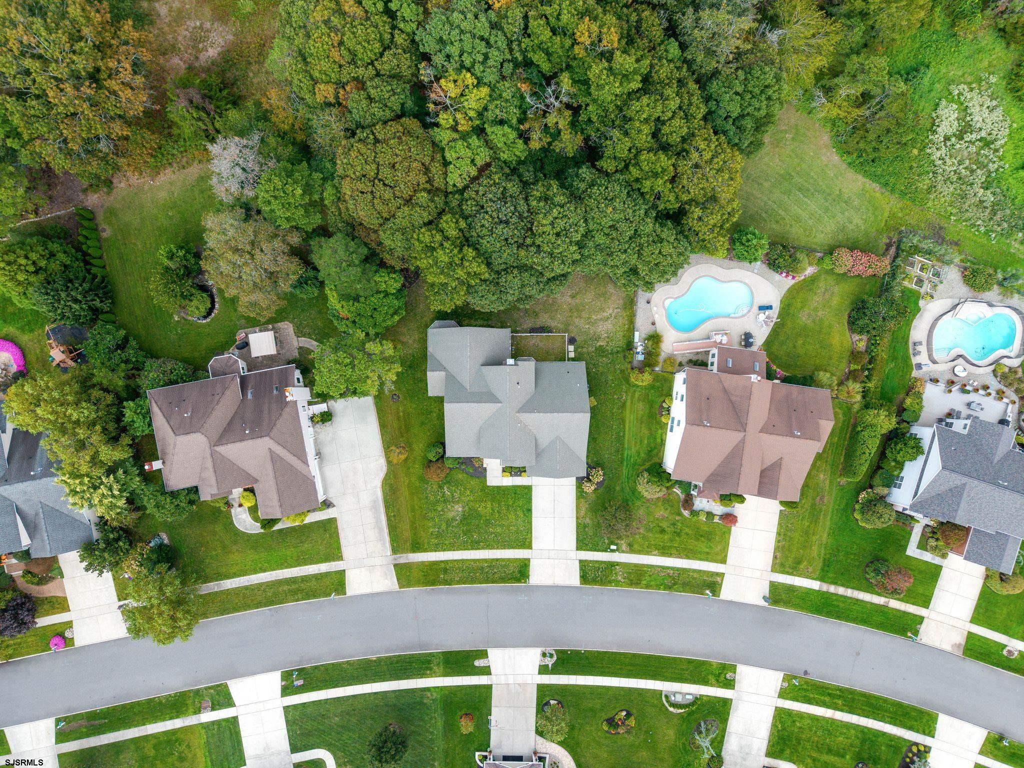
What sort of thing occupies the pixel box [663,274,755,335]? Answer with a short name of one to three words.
swimming pool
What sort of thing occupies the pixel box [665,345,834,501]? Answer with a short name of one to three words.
house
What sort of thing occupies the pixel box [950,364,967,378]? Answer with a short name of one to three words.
umbrella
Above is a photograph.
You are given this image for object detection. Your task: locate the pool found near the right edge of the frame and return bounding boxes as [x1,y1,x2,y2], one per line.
[933,298,1023,367]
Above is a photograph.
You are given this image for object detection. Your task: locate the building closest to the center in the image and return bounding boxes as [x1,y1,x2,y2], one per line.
[427,320,590,478]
